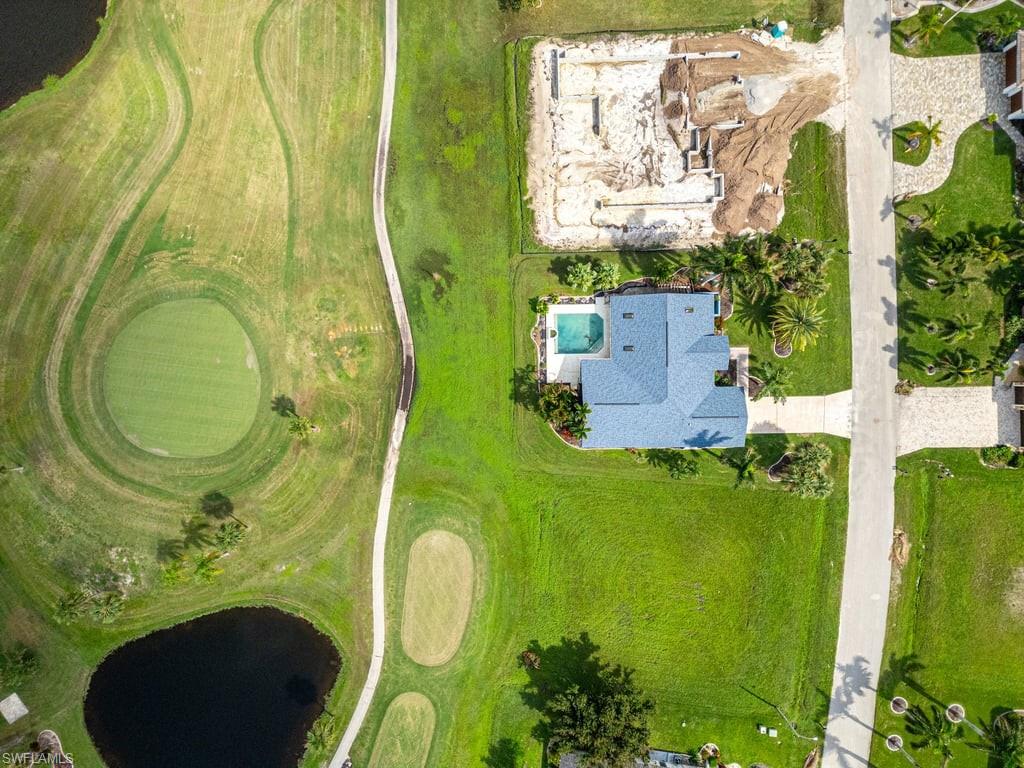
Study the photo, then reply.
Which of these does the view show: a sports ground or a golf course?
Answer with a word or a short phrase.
golf course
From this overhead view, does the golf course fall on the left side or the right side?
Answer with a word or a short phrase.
left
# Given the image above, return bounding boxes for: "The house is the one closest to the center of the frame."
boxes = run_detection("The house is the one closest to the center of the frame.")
[581,291,747,447]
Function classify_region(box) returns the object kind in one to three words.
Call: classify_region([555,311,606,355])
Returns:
swimming pool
